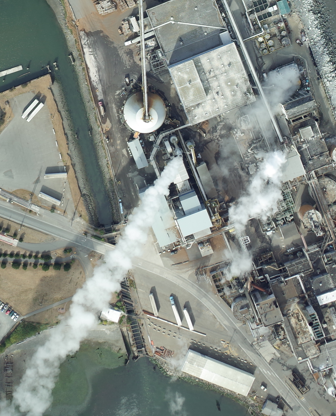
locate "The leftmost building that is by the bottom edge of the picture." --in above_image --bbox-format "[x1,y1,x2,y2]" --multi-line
[181,349,255,396]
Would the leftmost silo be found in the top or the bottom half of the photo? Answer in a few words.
top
